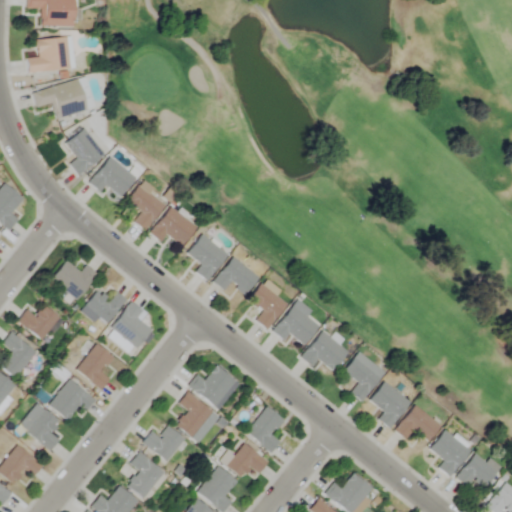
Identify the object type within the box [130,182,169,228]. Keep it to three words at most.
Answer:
house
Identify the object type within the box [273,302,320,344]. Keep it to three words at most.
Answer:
house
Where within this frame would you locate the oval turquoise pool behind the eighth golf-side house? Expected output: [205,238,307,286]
[217,232,233,249]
